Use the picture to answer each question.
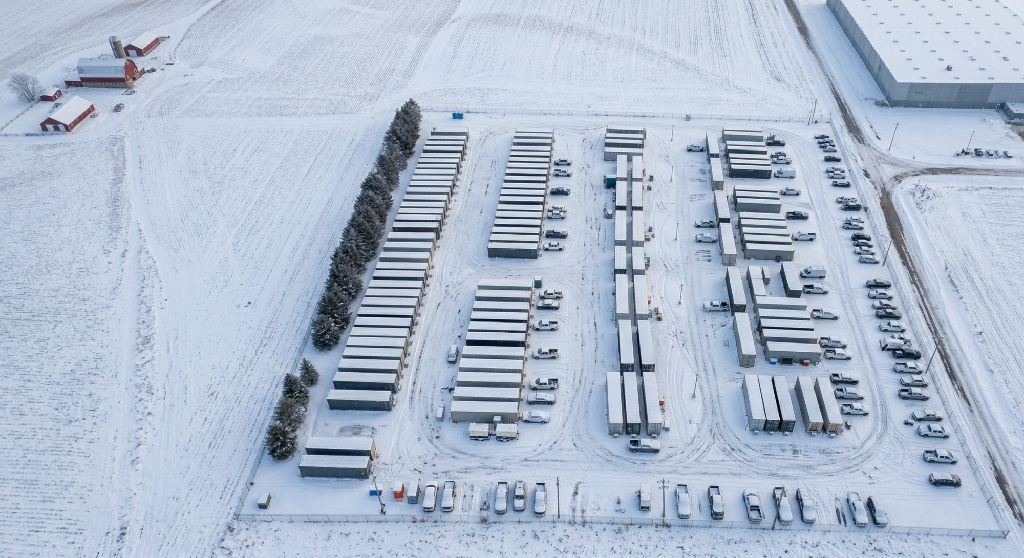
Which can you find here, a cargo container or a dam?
cargo container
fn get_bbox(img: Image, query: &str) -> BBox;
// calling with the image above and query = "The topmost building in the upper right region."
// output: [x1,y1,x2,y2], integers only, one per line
[825,0,1024,109]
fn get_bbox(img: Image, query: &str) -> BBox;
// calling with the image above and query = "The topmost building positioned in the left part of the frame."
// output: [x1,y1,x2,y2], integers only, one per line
[125,28,161,56]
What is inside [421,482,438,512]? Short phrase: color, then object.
white car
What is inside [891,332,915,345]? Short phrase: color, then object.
white vehicle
